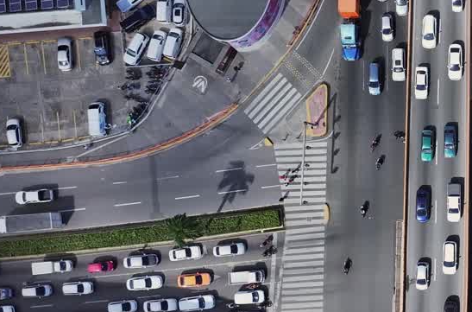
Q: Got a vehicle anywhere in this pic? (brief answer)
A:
Yes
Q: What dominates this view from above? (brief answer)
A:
paved ground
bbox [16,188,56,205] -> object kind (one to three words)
vehicle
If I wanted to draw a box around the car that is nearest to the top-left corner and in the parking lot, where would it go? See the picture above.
[56,38,76,71]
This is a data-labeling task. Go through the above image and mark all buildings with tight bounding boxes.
[189,0,288,53]
[0,0,121,42]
